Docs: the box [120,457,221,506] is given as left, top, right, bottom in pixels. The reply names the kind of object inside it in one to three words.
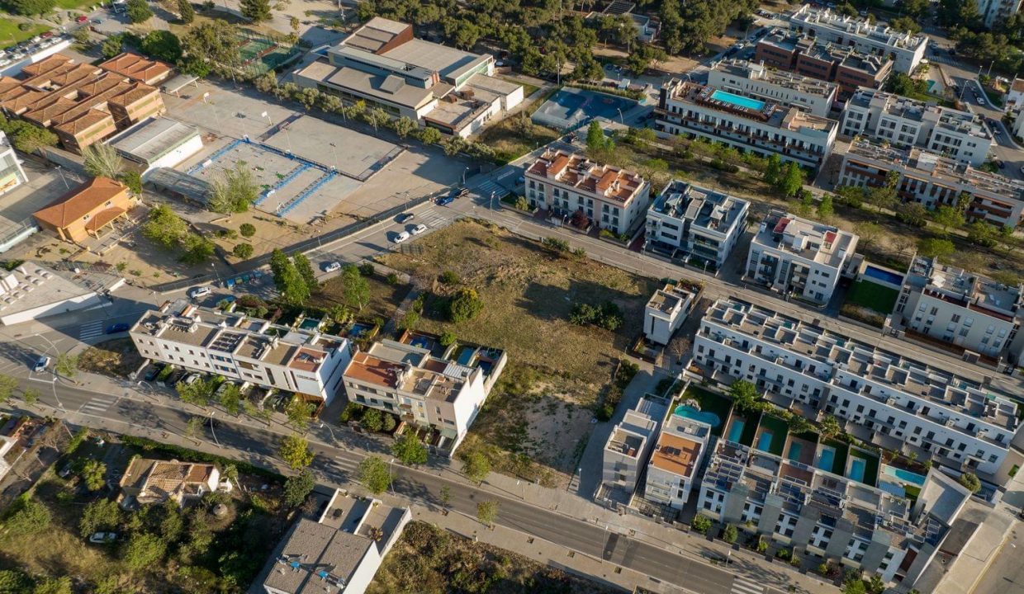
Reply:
house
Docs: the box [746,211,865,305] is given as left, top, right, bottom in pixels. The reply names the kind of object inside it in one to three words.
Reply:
building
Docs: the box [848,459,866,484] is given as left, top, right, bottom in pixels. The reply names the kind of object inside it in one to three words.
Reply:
swimming pool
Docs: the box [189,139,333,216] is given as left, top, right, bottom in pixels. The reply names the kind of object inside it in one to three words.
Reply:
sports court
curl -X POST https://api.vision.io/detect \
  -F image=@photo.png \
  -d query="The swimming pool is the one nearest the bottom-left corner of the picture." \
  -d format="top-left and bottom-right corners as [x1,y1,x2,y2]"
[298,317,318,331]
